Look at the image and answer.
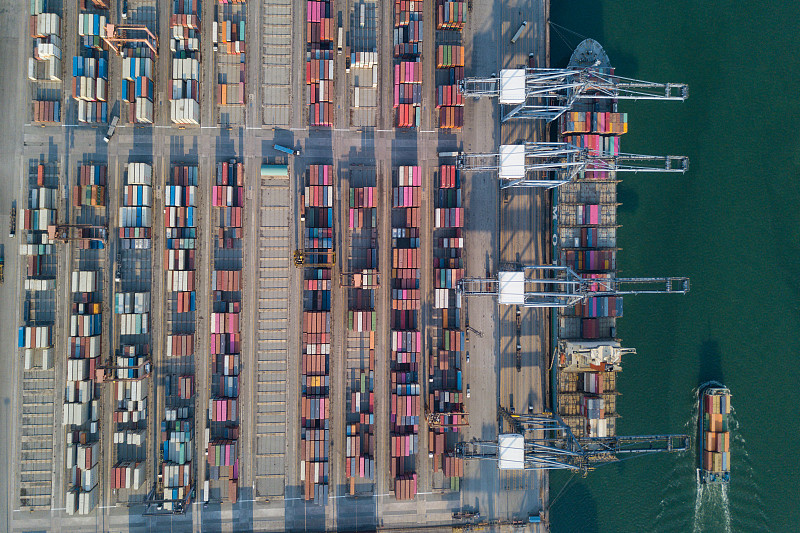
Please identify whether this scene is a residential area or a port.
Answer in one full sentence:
The picture captures a port.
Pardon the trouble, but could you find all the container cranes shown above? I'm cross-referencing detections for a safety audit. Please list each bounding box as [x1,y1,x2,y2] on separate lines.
[461,399,695,467]
[291,249,338,270]
[94,359,155,383]
[461,67,691,140]
[46,223,110,245]
[423,402,470,429]
[141,484,199,517]
[102,24,161,59]
[461,140,691,202]
[461,263,693,309]
[337,270,381,290]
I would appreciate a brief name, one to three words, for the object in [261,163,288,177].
shed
